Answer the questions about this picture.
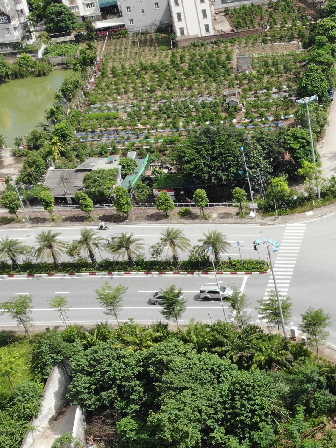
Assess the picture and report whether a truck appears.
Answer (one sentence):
No, no truck is visible in the scene.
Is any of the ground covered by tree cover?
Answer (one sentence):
Yes, the picture does contain tree cover.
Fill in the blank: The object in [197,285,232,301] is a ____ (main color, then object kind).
white car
